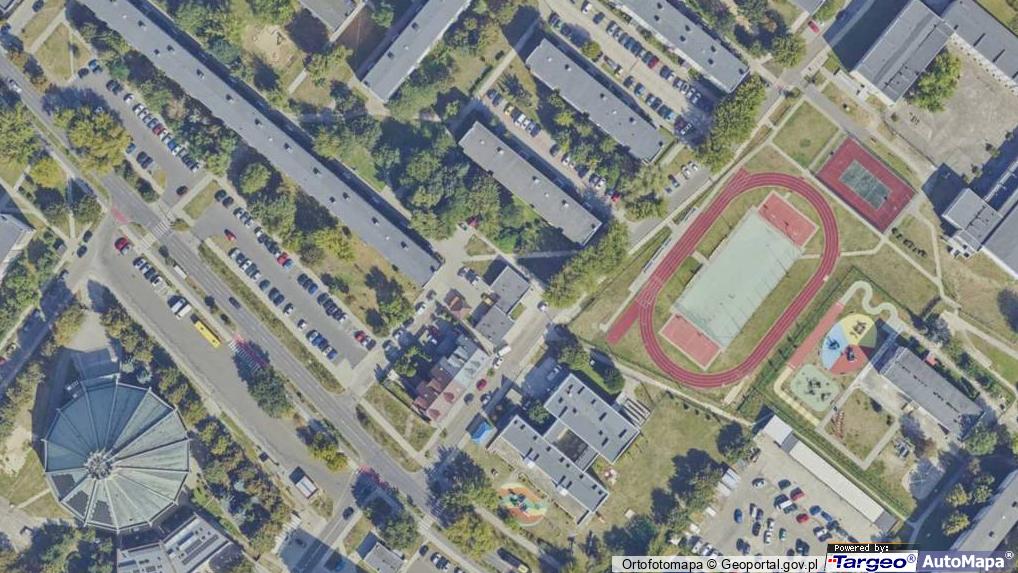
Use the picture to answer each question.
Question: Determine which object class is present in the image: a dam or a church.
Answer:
church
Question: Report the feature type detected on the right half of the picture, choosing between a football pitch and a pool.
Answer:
football pitch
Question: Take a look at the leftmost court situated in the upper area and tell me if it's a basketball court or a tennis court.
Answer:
basketball court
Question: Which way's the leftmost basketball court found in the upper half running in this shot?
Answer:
diagonally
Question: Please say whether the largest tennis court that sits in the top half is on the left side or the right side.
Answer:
right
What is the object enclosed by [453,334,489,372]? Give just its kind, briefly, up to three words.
house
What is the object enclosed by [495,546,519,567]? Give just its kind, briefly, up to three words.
vehicle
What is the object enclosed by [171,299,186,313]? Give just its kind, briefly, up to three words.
vehicle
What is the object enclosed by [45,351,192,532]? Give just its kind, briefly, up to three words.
church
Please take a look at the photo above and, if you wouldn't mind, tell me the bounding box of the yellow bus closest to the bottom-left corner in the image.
[193,319,223,349]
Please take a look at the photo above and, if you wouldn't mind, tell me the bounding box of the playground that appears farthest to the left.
[498,482,547,525]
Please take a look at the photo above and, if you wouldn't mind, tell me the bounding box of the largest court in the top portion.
[817,138,915,232]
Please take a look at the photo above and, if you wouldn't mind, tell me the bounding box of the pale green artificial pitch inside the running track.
[668,204,807,353]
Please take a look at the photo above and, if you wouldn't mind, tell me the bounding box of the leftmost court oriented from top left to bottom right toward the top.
[756,189,820,249]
